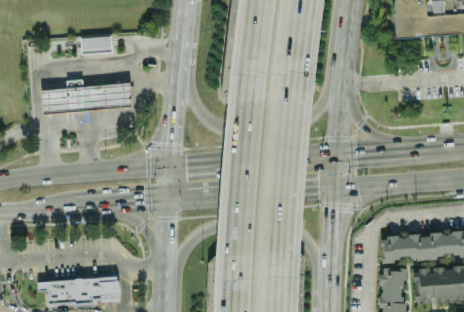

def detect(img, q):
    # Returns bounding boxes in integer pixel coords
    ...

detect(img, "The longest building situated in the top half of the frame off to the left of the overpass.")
[42,79,132,116]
